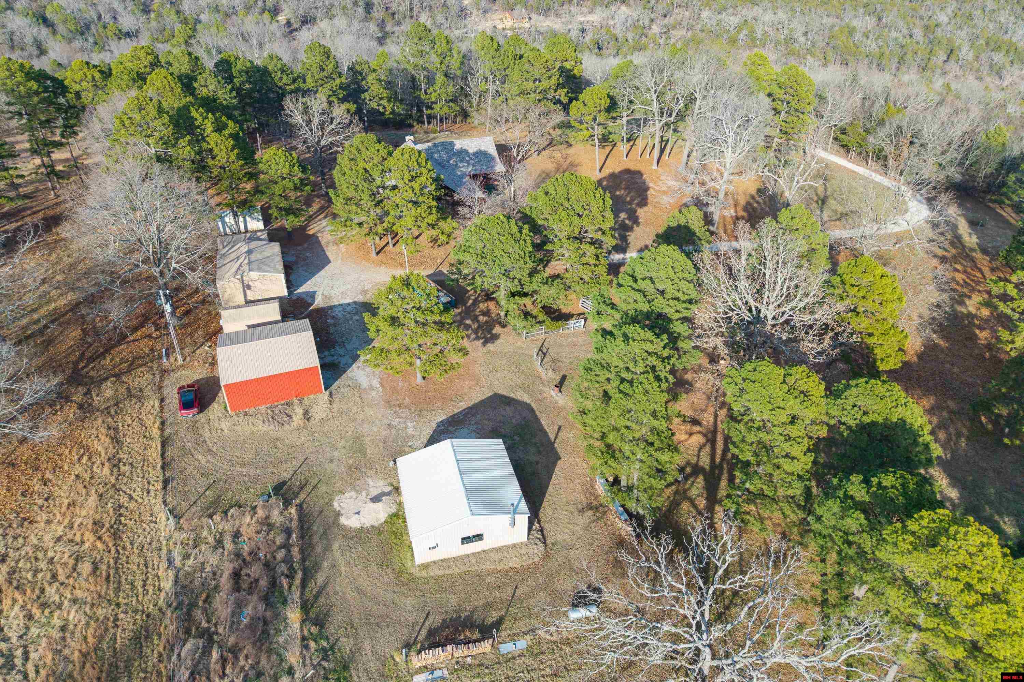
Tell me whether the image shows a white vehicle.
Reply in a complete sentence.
No, there is no white vehicle in the image.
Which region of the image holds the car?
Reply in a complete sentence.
You can find the car in the left area of the picture.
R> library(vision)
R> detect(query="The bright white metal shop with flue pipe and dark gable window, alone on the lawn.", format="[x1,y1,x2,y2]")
[394,437,532,567]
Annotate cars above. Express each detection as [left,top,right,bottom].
[174,381,204,424]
